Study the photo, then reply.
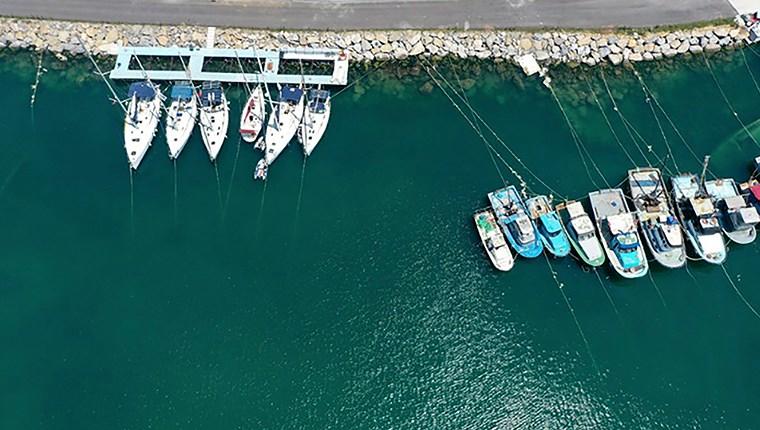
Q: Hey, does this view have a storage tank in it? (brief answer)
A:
No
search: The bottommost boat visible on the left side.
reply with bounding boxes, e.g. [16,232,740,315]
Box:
[254,157,269,180]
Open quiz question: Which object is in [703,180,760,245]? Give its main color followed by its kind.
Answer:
white boat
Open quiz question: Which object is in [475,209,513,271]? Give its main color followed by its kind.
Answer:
white boat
